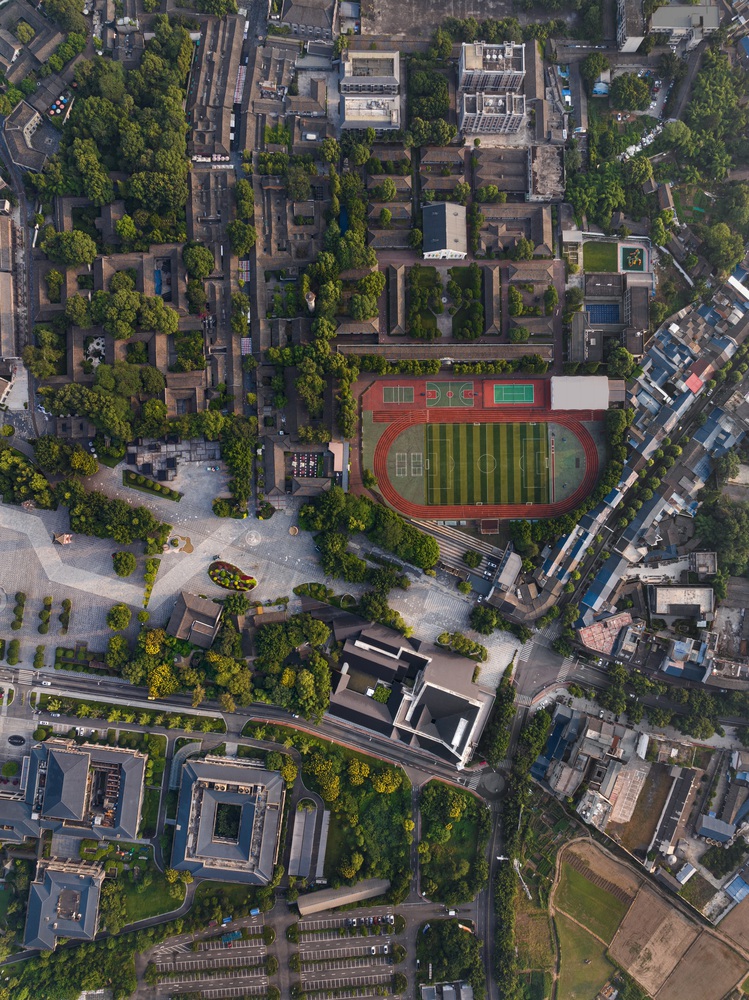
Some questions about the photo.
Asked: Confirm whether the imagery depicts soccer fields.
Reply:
Yes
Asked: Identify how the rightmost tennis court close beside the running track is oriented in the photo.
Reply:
horizontally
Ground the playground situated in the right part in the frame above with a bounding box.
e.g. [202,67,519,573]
[618,242,648,272]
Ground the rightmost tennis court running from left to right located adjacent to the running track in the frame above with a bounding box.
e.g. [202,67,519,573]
[483,380,546,408]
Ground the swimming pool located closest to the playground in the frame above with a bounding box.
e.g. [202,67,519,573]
[584,301,621,326]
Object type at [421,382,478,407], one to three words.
basketball court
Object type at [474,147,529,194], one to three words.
building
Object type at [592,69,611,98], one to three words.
shed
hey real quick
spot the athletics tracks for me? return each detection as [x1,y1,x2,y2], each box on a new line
[373,409,627,520]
